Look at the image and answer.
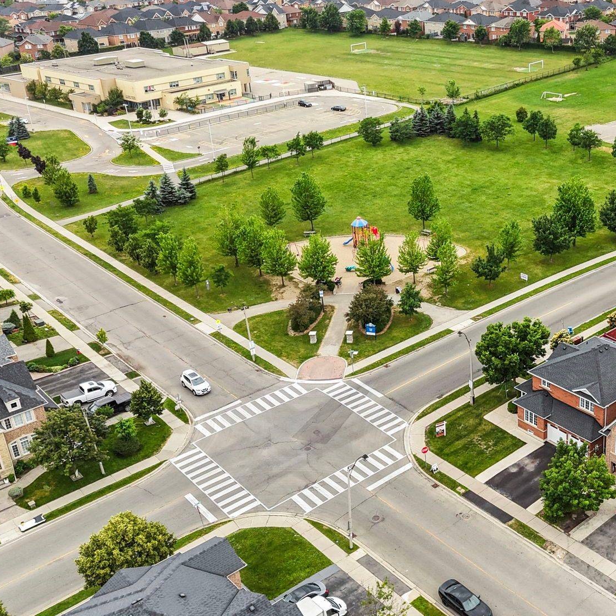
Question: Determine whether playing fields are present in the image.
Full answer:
Yes, this view includes a playing field.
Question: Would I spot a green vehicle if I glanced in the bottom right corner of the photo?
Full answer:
No, looking in the bottom right corner of the photo, there is no green vehicle.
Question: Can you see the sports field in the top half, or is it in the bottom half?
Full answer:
The top half of the photo is where the sports field is.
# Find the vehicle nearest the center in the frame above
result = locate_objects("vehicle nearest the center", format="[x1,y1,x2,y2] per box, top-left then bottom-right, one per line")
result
[179,370,211,396]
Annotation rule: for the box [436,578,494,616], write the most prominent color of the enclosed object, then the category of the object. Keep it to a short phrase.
gray car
